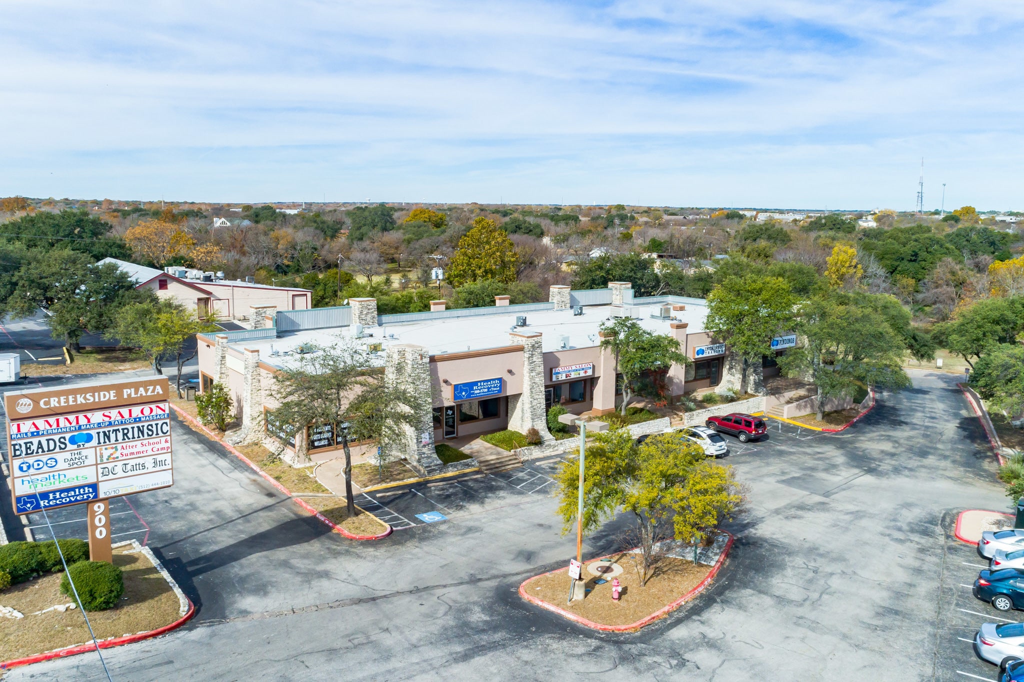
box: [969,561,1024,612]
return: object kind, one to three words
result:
car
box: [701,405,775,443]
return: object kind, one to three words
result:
car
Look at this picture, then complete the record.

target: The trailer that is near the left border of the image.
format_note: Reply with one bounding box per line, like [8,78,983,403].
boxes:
[0,346,45,380]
